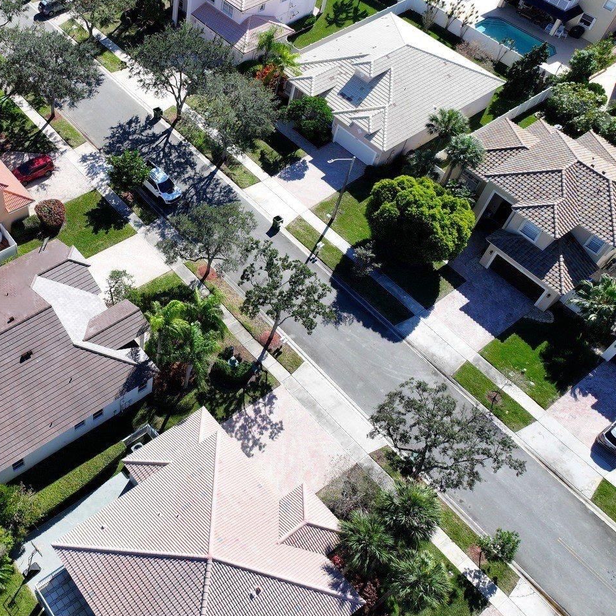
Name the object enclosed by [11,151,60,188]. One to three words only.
car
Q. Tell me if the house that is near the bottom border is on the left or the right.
left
